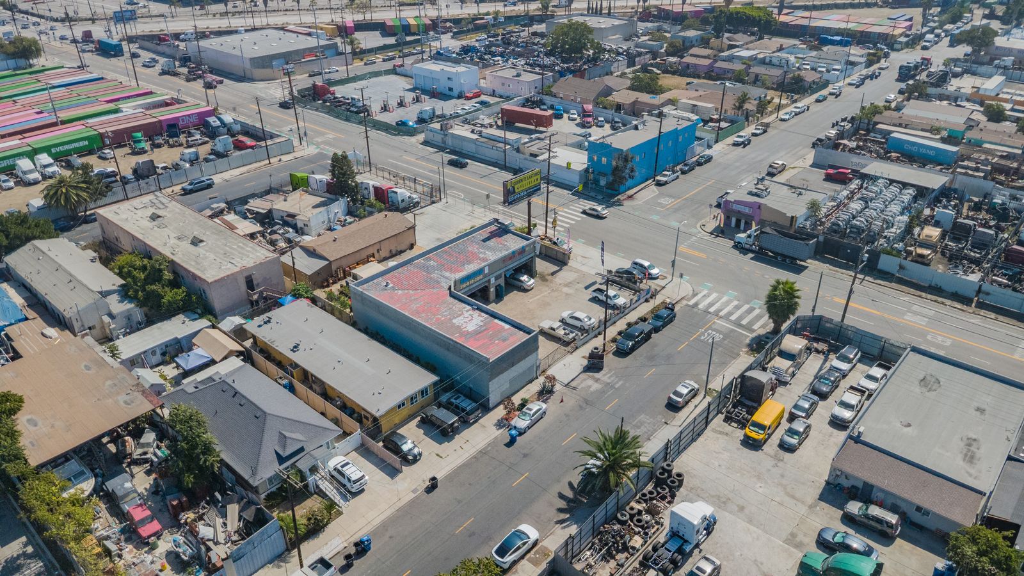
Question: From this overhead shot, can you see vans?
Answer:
Yes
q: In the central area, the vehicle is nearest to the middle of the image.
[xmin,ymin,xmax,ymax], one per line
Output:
[502,271,537,290]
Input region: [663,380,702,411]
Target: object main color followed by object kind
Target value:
gray car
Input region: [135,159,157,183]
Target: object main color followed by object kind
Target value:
black truck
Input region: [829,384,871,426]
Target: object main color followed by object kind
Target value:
white truck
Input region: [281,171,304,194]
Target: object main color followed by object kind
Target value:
green truck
